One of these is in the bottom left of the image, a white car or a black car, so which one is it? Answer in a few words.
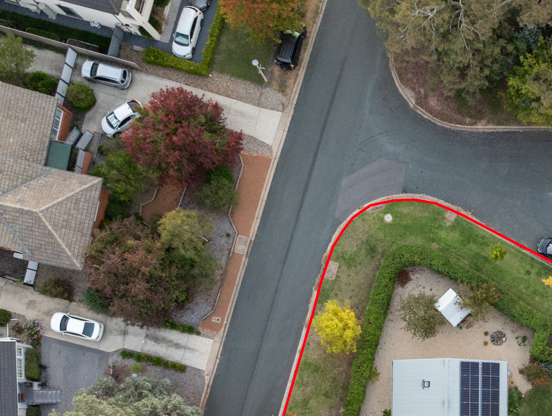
white car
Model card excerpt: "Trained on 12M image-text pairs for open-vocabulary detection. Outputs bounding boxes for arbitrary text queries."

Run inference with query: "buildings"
[0,314,61,416]
[0,82,110,271]
[23,0,180,60]
[390,357,509,416]
[434,288,470,327]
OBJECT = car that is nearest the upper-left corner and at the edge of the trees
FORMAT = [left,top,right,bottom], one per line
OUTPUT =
[80,59,135,94]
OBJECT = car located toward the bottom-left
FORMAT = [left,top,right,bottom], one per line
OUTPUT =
[49,312,107,342]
